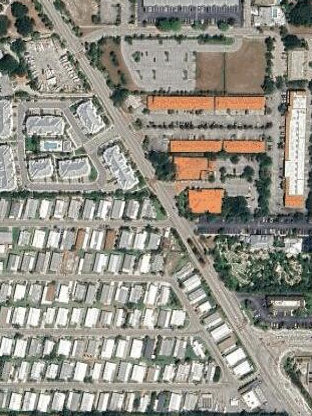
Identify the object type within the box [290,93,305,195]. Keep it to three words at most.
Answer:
building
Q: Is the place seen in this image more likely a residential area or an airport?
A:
residential area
